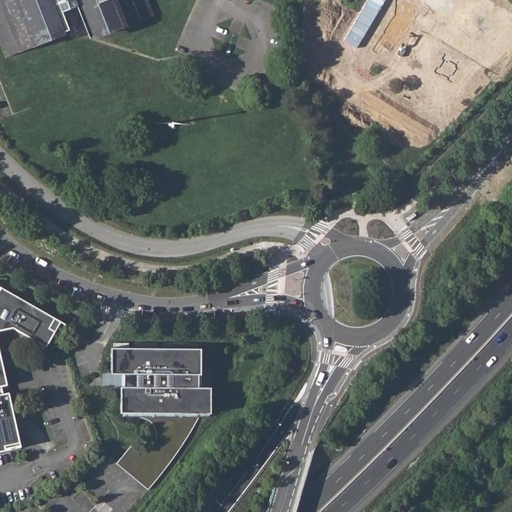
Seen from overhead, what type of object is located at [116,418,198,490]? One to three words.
building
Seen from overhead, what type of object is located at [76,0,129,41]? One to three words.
building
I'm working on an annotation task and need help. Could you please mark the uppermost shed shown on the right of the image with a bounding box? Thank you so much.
[343,0,386,48]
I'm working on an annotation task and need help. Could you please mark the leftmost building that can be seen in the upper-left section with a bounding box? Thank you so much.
[0,0,68,60]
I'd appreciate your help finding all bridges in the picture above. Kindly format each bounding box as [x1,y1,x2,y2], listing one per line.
[268,442,316,512]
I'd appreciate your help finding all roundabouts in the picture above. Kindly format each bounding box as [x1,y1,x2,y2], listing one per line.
[304,237,413,348]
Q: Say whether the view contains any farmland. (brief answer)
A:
No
